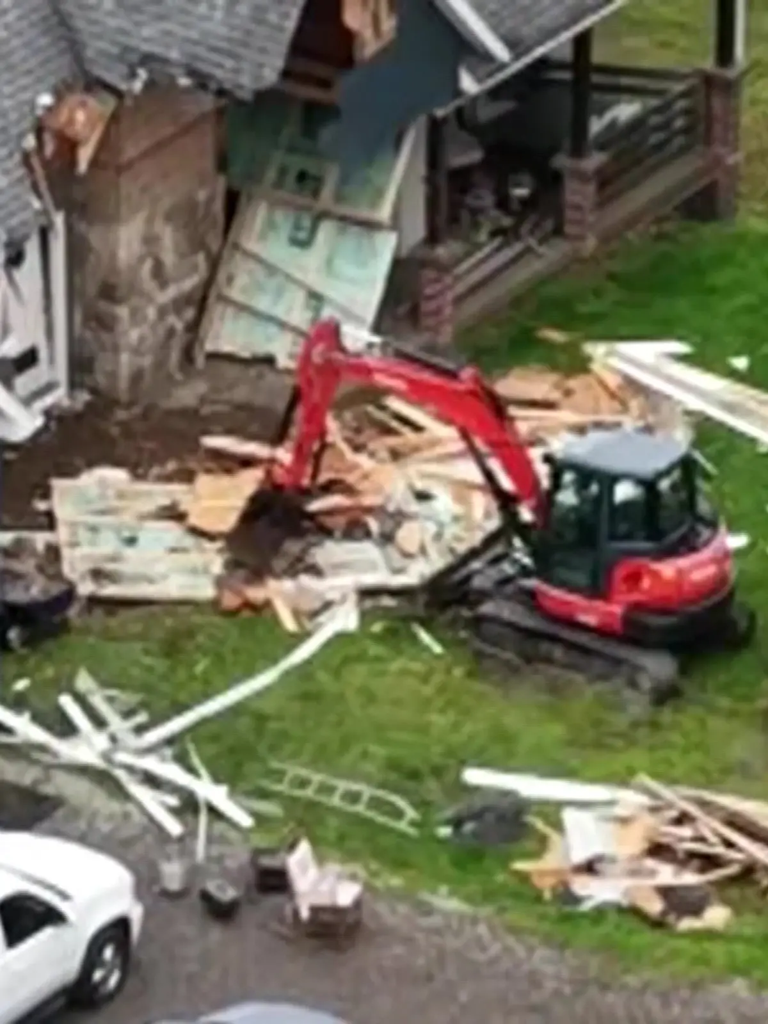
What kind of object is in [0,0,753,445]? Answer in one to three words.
house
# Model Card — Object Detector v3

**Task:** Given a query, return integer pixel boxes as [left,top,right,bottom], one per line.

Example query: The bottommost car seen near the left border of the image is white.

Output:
[0,812,137,1024]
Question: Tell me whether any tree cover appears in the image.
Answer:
No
